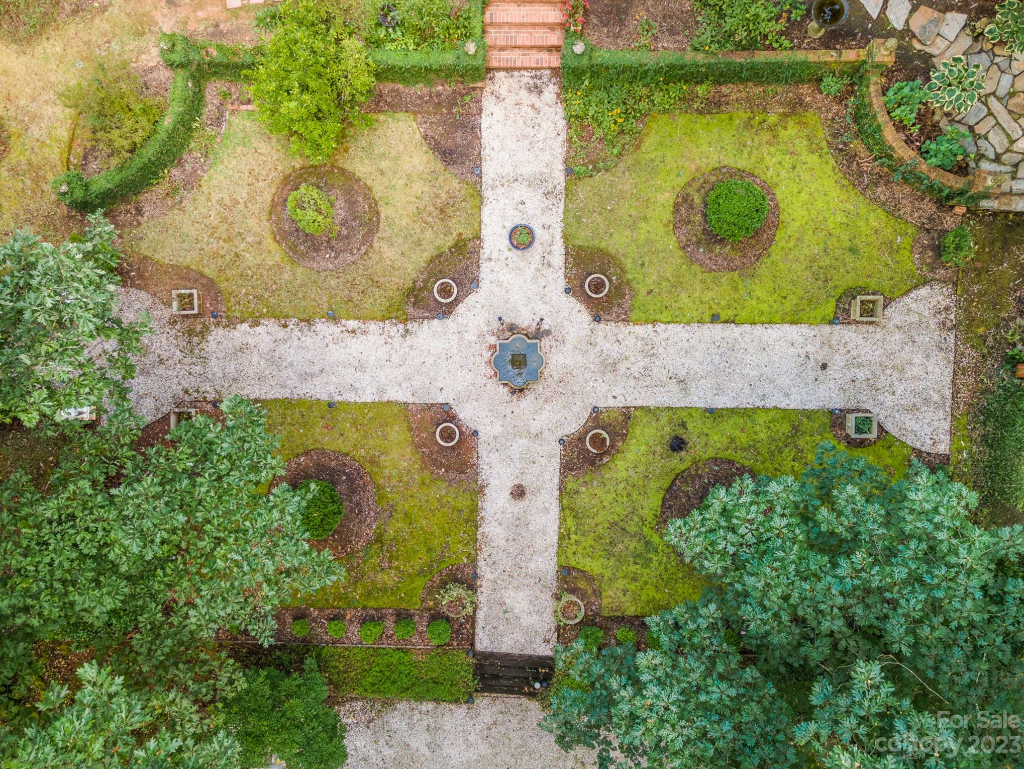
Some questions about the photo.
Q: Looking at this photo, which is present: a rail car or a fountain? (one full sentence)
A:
It is a fountain that can be seen here.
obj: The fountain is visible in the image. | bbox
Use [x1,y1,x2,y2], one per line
[491,335,545,389]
